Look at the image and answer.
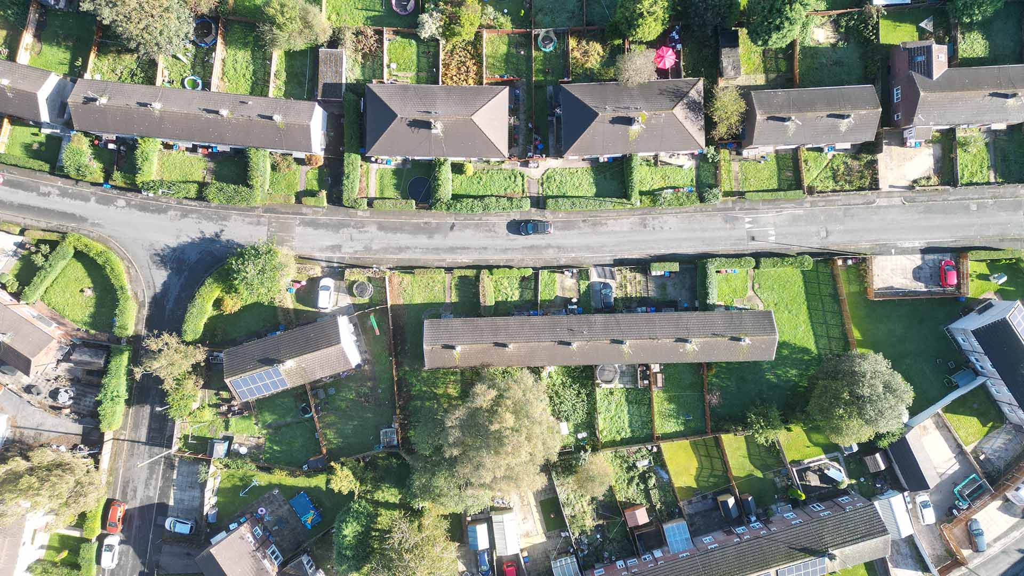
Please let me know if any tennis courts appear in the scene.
No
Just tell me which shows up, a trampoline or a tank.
trampoline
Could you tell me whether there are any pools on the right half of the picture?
No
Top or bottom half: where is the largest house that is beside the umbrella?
top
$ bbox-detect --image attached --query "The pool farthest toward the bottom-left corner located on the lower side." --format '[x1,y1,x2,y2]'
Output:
[289,487,326,530]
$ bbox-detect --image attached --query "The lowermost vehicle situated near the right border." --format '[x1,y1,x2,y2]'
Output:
[964,517,986,553]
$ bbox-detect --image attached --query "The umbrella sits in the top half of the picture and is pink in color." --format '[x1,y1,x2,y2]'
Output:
[652,47,676,71]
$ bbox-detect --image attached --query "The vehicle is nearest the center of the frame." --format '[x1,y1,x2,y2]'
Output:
[519,219,553,236]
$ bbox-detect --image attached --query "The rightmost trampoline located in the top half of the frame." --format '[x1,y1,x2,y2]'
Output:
[537,29,555,53]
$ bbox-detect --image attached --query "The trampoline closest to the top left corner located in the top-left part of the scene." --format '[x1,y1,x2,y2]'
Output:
[191,19,216,46]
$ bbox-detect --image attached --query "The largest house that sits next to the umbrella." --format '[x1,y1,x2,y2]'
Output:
[559,77,706,163]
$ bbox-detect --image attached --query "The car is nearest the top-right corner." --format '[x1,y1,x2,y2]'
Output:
[938,259,957,289]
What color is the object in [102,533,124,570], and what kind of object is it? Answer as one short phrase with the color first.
white car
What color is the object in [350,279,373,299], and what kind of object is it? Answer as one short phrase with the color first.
gray trampoline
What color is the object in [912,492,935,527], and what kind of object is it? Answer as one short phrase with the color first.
white car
